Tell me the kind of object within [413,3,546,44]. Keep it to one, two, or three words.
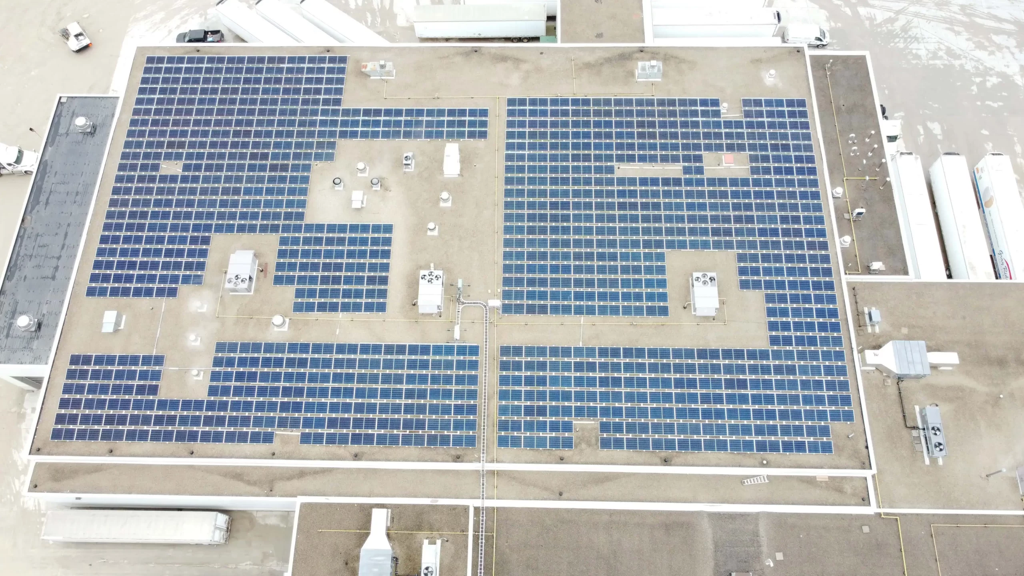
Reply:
trailer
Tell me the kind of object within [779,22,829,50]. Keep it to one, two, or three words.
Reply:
van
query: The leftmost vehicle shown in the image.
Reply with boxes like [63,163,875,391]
[0,141,39,172]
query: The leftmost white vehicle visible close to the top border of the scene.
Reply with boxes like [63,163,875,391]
[60,17,99,56]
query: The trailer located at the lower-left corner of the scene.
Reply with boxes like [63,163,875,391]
[41,508,233,543]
